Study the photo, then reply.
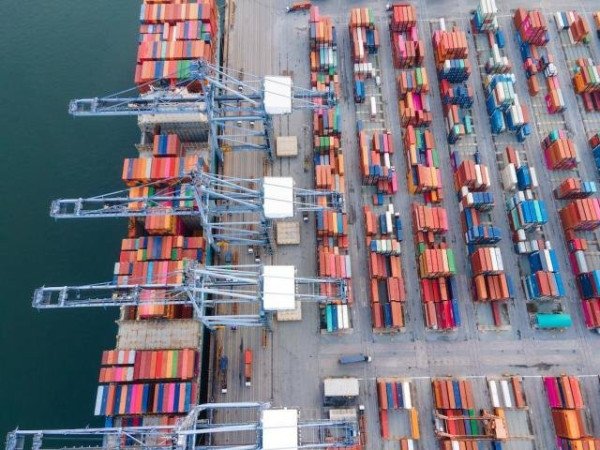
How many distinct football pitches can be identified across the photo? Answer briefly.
zero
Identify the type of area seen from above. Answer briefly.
port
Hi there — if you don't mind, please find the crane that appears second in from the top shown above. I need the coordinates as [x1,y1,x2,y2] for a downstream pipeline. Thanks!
[51,167,345,260]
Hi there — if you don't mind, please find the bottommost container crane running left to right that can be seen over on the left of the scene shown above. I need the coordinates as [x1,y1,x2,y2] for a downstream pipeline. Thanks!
[10,388,360,450]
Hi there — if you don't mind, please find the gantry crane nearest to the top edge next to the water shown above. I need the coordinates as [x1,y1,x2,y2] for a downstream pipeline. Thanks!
[69,57,339,172]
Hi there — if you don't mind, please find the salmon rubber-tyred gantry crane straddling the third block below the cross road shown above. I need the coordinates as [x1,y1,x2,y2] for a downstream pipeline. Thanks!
[430,411,512,445]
